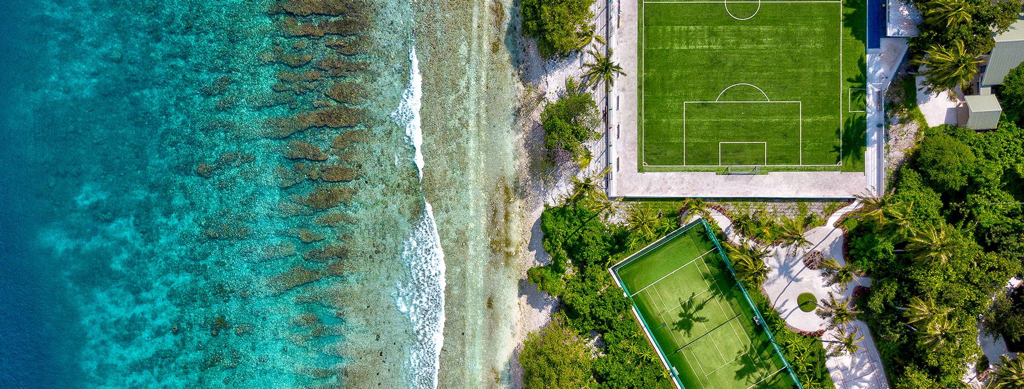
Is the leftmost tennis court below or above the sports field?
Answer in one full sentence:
The position of the leftmost tennis court is below the sports field.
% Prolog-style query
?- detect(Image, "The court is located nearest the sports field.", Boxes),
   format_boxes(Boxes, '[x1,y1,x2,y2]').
[609,219,794,389]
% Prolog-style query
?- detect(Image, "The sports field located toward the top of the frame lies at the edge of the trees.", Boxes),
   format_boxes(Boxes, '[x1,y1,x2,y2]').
[619,0,867,196]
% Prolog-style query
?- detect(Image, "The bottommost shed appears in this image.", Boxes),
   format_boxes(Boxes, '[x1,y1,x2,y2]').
[958,95,1003,130]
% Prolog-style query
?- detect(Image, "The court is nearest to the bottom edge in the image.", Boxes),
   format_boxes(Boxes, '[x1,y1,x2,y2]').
[824,320,890,389]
